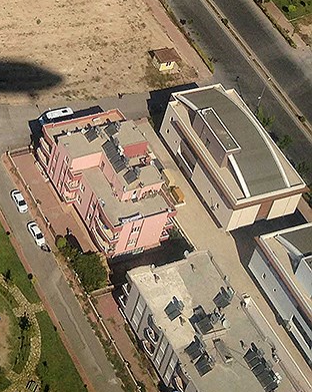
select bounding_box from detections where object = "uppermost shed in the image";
[152,47,177,71]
